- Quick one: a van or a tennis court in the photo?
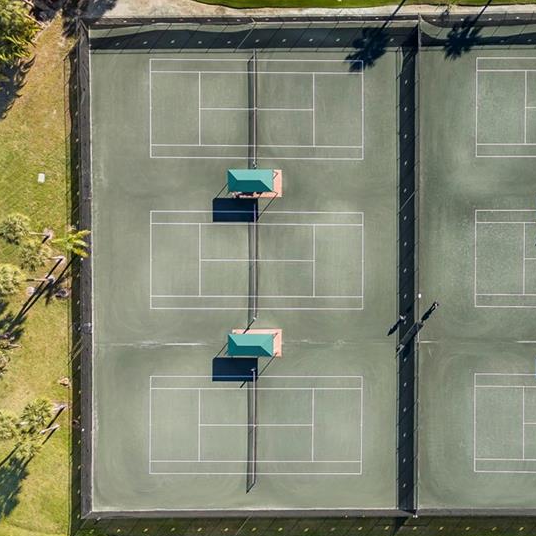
tennis court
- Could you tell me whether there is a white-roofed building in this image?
No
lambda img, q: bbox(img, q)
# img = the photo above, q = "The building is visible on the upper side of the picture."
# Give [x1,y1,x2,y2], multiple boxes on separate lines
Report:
[228,169,282,197]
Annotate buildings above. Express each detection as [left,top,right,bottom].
[228,329,282,357]
[228,169,282,197]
